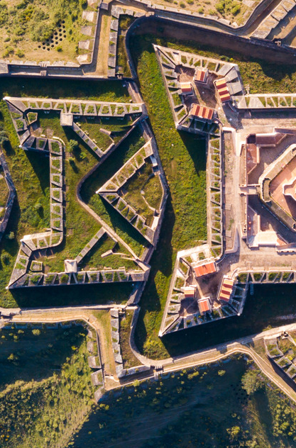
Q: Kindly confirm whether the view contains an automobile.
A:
No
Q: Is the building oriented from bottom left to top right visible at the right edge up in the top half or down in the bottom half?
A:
top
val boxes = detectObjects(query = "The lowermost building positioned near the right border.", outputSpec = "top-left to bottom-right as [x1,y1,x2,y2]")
[246,206,295,251]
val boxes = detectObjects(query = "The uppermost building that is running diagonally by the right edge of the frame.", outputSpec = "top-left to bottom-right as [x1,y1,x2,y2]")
[246,128,296,175]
